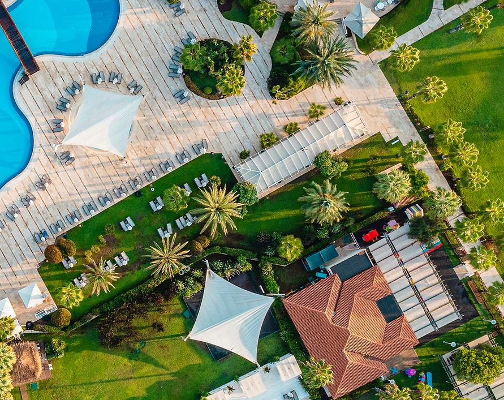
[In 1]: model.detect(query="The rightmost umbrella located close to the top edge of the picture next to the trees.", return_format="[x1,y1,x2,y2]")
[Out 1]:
[340,0,382,41]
